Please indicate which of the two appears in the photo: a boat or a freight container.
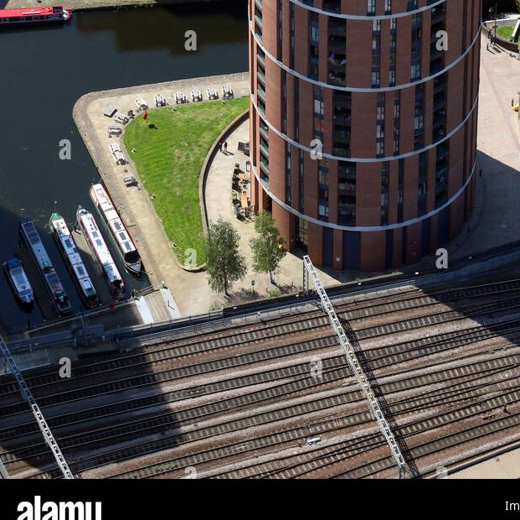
boat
